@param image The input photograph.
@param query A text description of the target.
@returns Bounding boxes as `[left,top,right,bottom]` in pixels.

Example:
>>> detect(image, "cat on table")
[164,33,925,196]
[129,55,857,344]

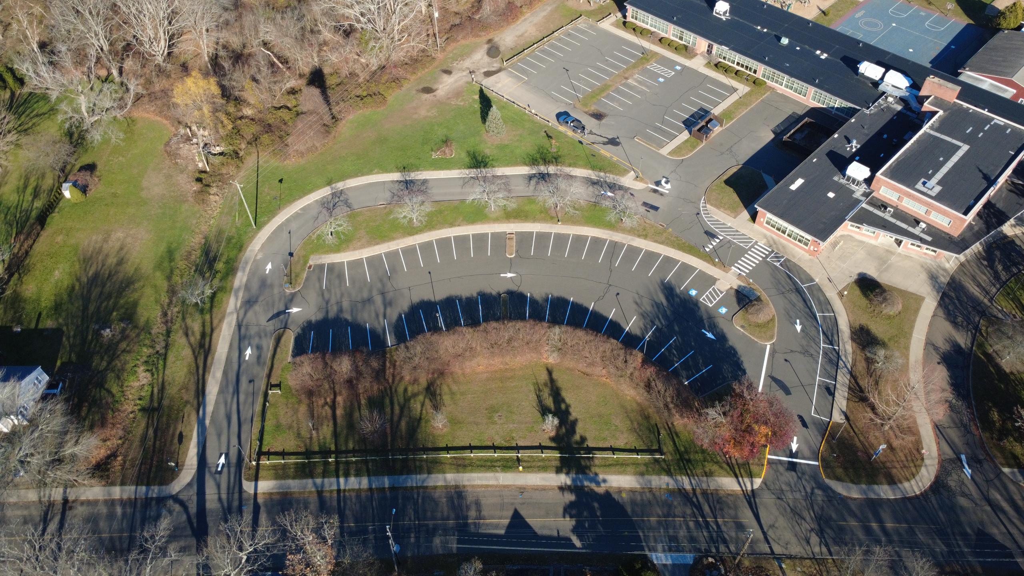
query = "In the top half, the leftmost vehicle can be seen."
[555,115,588,134]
